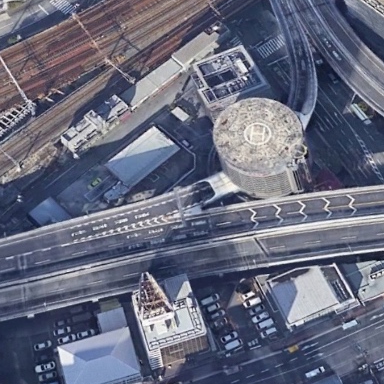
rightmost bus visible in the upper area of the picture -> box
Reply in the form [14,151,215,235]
[347,97,375,129]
